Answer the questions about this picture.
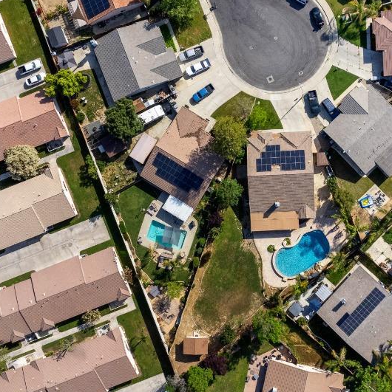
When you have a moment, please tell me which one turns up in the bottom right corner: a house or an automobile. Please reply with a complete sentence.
It is a house that can be seen in the bottom right corner.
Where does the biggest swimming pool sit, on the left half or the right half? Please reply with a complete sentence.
You can find the biggest swimming pool on the right side of the picture.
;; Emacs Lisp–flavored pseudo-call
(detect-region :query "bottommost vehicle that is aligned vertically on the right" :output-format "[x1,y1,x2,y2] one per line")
[305,88,321,116]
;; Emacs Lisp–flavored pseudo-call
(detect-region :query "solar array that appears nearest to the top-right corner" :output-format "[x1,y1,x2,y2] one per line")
[257,144,305,171]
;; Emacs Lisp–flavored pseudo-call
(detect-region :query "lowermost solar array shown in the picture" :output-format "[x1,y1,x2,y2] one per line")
[337,288,384,336]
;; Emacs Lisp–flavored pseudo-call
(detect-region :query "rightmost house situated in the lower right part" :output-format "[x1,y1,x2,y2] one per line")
[314,263,392,364]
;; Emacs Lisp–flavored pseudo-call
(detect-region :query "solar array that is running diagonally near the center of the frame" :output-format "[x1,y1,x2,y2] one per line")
[153,153,202,191]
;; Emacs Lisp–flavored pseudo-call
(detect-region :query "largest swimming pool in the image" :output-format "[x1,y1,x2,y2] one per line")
[272,227,330,280]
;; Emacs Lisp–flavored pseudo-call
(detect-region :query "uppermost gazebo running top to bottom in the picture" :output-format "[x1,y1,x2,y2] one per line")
[73,2,88,30]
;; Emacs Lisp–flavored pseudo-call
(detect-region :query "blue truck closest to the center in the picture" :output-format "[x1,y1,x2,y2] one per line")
[190,81,215,103]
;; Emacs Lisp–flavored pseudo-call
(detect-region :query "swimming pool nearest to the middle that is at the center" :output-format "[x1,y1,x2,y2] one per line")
[146,218,188,251]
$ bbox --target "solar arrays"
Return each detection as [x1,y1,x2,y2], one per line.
[337,288,384,336]
[257,144,305,171]
[153,153,202,191]
[82,0,109,18]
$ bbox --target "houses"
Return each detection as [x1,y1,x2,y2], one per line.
[0,248,136,350]
[247,132,315,231]
[0,158,78,249]
[79,0,146,24]
[314,263,392,364]
[263,358,347,392]
[0,92,76,174]
[0,315,139,392]
[373,10,392,77]
[324,82,392,179]
[93,23,183,101]
[130,105,225,221]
